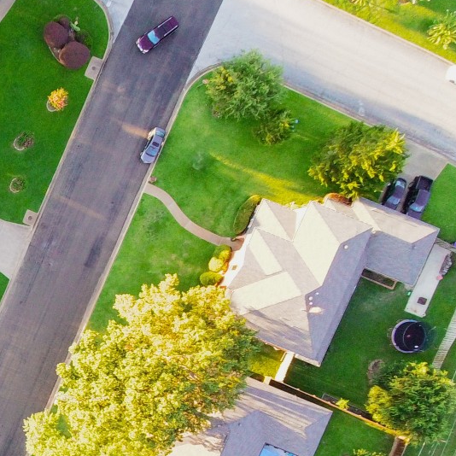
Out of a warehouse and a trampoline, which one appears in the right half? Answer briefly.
trampoline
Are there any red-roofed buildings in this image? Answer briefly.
No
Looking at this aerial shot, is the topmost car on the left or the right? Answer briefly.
left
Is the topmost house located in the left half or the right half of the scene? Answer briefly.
right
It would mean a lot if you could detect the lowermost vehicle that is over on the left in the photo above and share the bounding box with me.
[139,125,167,166]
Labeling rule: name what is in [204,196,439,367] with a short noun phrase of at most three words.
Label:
house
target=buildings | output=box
[218,371,334,456]
[204,196,439,367]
